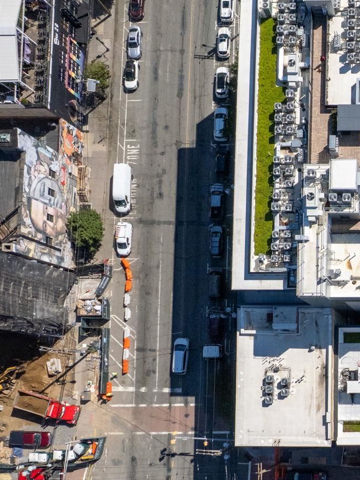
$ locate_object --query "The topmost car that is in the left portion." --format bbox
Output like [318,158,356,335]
[130,0,147,21]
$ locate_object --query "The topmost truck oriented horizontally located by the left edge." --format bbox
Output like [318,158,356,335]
[7,392,79,422]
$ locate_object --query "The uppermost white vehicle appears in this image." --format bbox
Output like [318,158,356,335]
[218,0,234,27]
